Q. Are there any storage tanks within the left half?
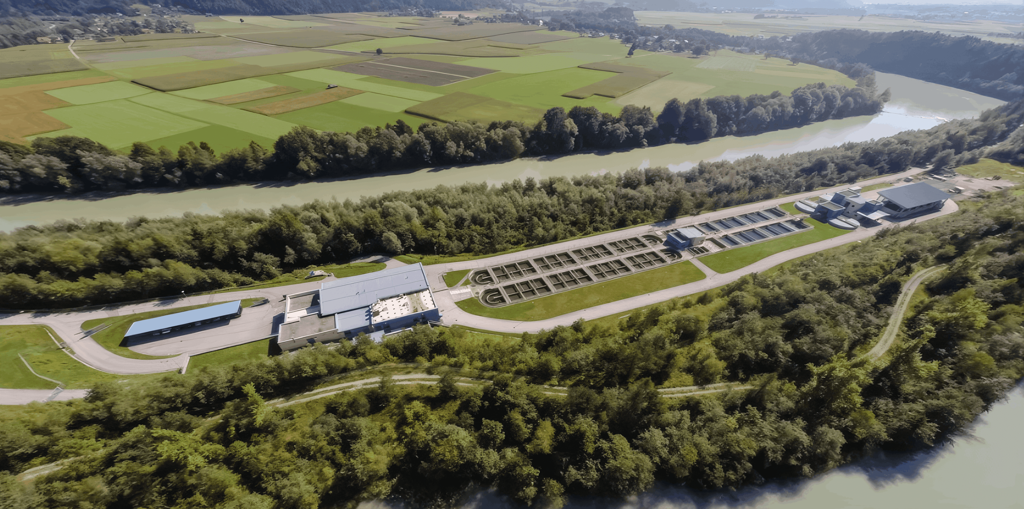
No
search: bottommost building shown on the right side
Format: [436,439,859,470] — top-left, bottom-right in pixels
[666,226,706,249]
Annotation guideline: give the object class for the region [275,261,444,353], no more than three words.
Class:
building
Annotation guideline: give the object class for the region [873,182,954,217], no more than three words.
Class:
building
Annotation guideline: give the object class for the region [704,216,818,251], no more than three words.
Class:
storage tank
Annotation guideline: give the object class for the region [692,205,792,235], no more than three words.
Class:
storage tank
